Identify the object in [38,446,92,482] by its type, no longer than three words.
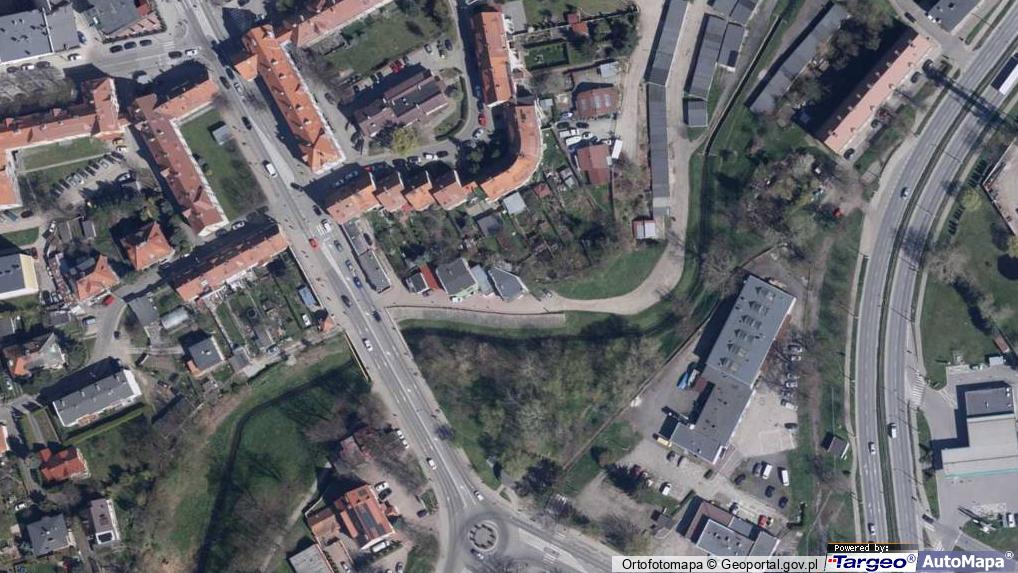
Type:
house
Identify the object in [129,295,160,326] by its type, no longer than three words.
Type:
shed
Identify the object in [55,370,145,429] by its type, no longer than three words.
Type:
building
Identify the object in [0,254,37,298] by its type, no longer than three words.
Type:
building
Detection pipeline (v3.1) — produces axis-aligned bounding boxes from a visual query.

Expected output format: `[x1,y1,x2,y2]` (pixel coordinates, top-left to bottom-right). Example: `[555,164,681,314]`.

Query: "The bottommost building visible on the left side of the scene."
[289,544,334,573]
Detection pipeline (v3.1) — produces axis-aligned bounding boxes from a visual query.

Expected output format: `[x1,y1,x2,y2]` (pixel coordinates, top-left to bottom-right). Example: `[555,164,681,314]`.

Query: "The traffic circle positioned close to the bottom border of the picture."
[451,505,514,568]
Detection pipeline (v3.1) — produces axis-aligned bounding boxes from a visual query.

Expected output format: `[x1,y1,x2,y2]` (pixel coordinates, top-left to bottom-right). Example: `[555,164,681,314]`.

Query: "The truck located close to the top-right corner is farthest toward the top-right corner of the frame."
[996,62,1018,92]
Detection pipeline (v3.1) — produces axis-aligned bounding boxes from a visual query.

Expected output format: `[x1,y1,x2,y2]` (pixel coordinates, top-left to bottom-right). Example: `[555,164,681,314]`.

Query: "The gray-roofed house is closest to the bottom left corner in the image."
[27,515,76,555]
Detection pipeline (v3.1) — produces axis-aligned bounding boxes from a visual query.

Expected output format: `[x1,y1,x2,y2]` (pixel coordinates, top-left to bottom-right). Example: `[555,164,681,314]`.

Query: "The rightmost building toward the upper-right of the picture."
[929,0,985,35]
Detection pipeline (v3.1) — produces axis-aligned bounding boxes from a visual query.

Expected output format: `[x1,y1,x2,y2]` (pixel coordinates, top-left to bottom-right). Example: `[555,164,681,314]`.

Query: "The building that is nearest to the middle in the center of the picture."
[489,267,529,302]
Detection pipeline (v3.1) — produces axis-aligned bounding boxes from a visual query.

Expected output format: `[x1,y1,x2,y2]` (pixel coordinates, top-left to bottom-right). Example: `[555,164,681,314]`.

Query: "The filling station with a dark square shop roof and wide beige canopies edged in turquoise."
[941,388,1018,478]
